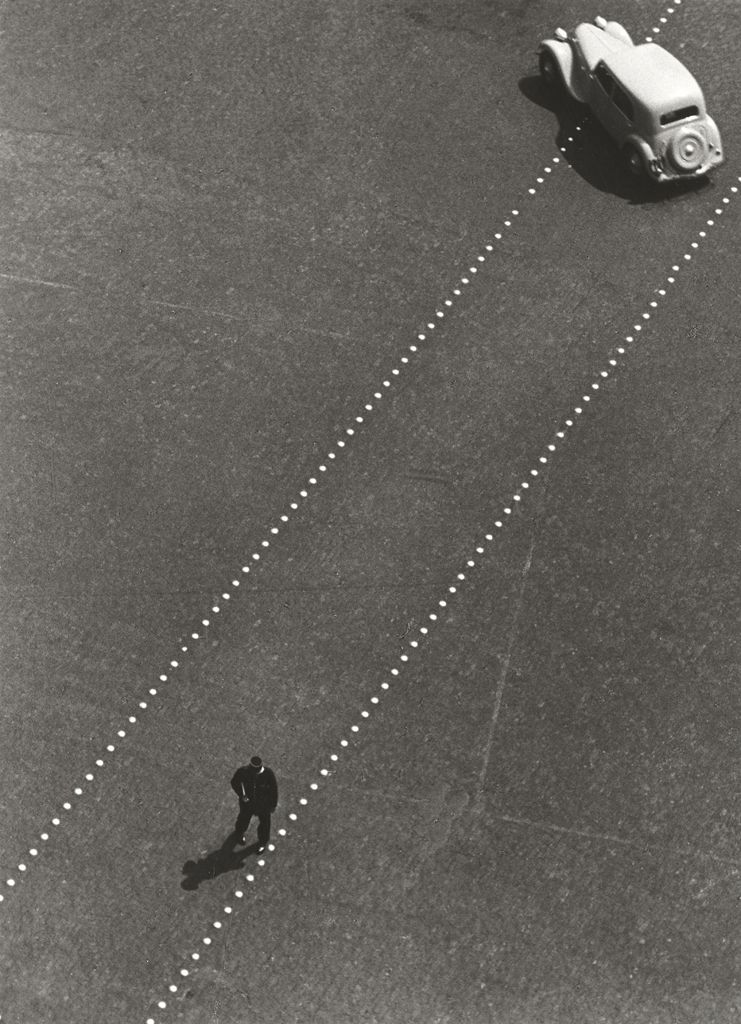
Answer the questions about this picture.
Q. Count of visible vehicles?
1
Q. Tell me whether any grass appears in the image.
No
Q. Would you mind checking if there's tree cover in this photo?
No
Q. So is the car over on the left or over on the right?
right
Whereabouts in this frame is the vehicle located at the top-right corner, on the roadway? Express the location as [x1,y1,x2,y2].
[537,14,724,184]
